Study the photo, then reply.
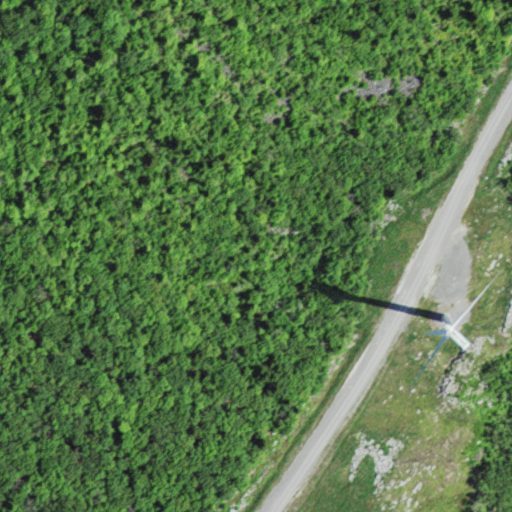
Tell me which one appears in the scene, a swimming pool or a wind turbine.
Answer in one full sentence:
The one in the frame is a wind turbine.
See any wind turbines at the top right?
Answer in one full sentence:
No, no wind turbine appears at the top right.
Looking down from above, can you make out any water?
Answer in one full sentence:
No, the picture contains no water.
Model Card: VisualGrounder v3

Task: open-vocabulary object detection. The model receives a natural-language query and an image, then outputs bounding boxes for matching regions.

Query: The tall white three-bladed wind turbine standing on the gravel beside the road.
[420,273,502,376]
